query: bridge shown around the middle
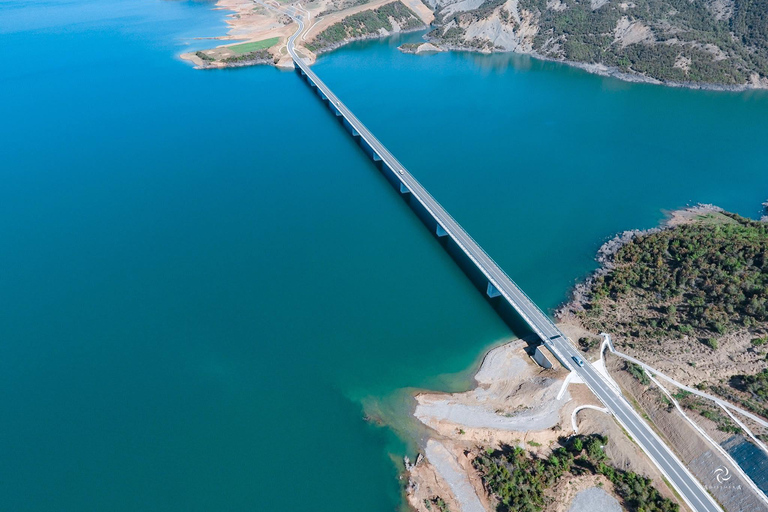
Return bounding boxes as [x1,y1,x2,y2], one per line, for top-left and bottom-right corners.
[292,57,596,377]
